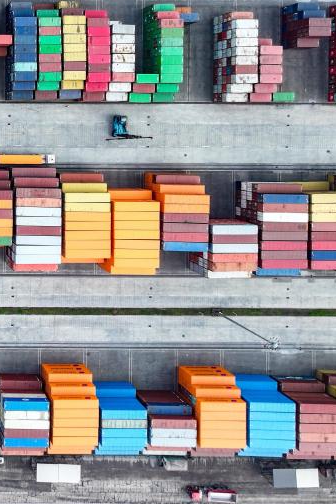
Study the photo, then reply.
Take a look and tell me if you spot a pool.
No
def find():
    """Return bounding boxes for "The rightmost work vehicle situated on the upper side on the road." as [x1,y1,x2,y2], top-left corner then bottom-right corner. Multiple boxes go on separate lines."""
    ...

[105,111,154,142]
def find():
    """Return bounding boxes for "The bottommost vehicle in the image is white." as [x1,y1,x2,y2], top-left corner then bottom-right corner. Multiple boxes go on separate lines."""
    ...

[191,487,235,503]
